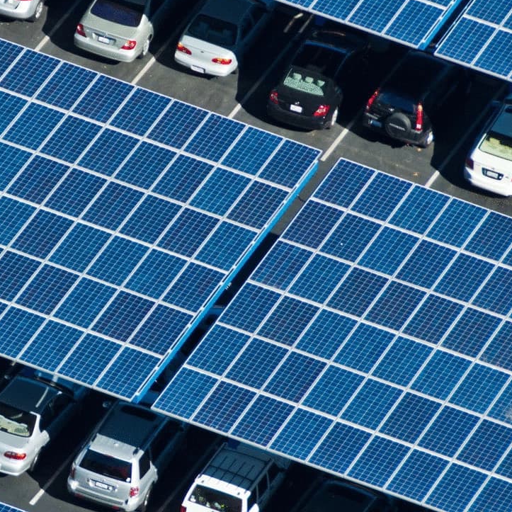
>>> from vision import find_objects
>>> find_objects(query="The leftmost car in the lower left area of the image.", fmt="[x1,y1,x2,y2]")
[0,363,87,479]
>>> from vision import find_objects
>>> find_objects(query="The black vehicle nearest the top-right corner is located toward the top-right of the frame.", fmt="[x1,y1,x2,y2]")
[362,41,476,147]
